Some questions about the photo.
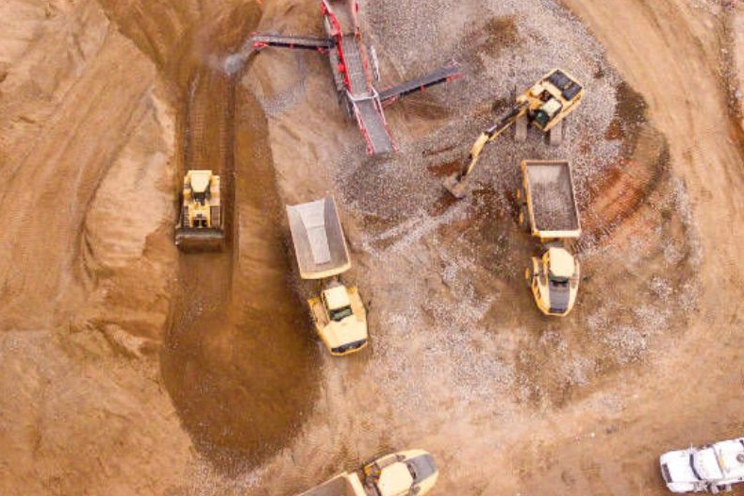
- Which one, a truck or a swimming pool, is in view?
truck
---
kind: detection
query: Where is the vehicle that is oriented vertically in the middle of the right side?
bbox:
[514,162,584,319]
